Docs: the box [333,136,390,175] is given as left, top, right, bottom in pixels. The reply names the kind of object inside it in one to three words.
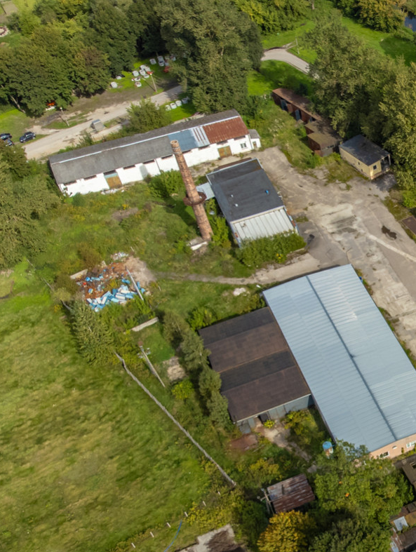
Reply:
shed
